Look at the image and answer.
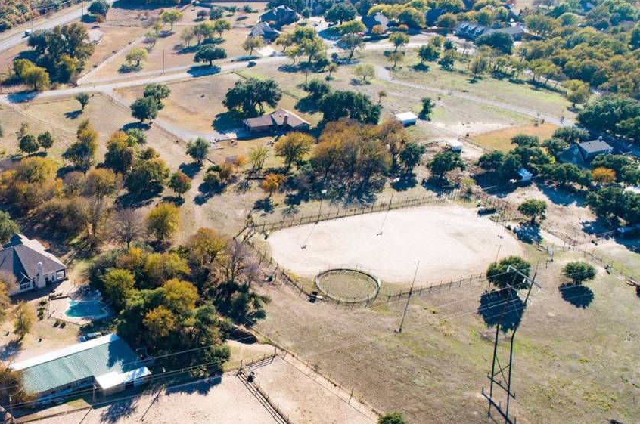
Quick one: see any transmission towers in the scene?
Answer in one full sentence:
Yes, I can see a transmission tower in this picture.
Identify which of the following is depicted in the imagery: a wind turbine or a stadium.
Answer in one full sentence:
The one in the frame is a stadium.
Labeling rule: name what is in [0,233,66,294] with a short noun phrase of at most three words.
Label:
house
